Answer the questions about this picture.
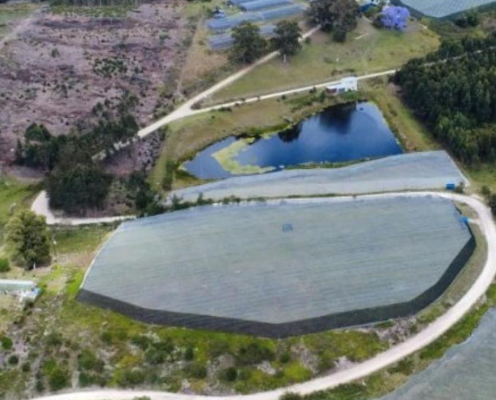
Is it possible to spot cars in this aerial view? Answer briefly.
No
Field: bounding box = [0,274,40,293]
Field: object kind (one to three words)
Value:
shed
